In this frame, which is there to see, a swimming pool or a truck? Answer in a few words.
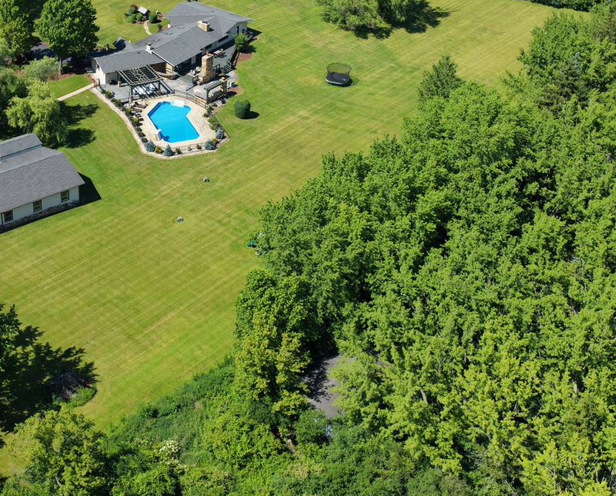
swimming pool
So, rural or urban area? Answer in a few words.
rural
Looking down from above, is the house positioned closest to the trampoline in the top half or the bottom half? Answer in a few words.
top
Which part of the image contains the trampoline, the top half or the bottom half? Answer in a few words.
top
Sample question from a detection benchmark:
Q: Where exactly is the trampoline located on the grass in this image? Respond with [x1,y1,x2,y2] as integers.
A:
[326,57,353,81]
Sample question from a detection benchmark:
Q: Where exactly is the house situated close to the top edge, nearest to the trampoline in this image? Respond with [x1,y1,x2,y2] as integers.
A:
[85,2,255,84]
